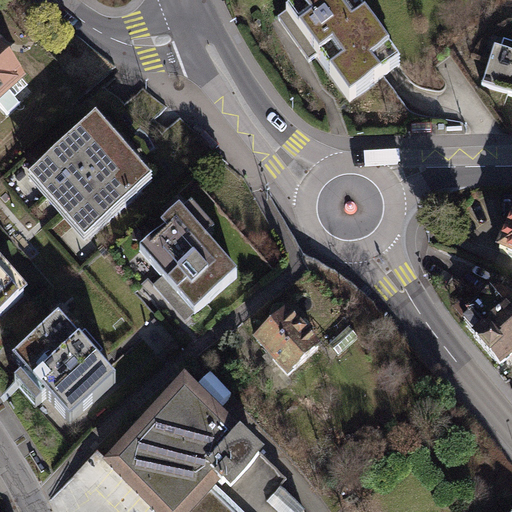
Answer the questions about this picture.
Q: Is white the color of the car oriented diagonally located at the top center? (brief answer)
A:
Yes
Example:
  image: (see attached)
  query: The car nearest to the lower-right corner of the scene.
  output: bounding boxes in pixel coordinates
[471,294,490,316]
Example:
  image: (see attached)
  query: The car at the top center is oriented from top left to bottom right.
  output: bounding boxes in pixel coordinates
[266,111,288,132]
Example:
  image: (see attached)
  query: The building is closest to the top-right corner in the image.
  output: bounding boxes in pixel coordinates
[480,37,512,104]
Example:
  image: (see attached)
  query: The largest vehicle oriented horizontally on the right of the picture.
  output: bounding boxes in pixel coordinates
[354,149,400,166]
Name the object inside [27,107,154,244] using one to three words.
building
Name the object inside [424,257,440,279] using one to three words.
car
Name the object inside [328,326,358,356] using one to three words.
greenhouse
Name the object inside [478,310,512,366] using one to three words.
house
